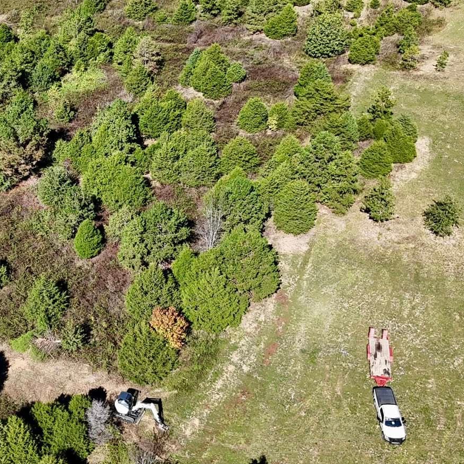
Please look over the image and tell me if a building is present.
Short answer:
No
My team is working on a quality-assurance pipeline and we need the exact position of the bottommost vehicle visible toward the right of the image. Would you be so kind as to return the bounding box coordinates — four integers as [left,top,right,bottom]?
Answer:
[370,386,407,447]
